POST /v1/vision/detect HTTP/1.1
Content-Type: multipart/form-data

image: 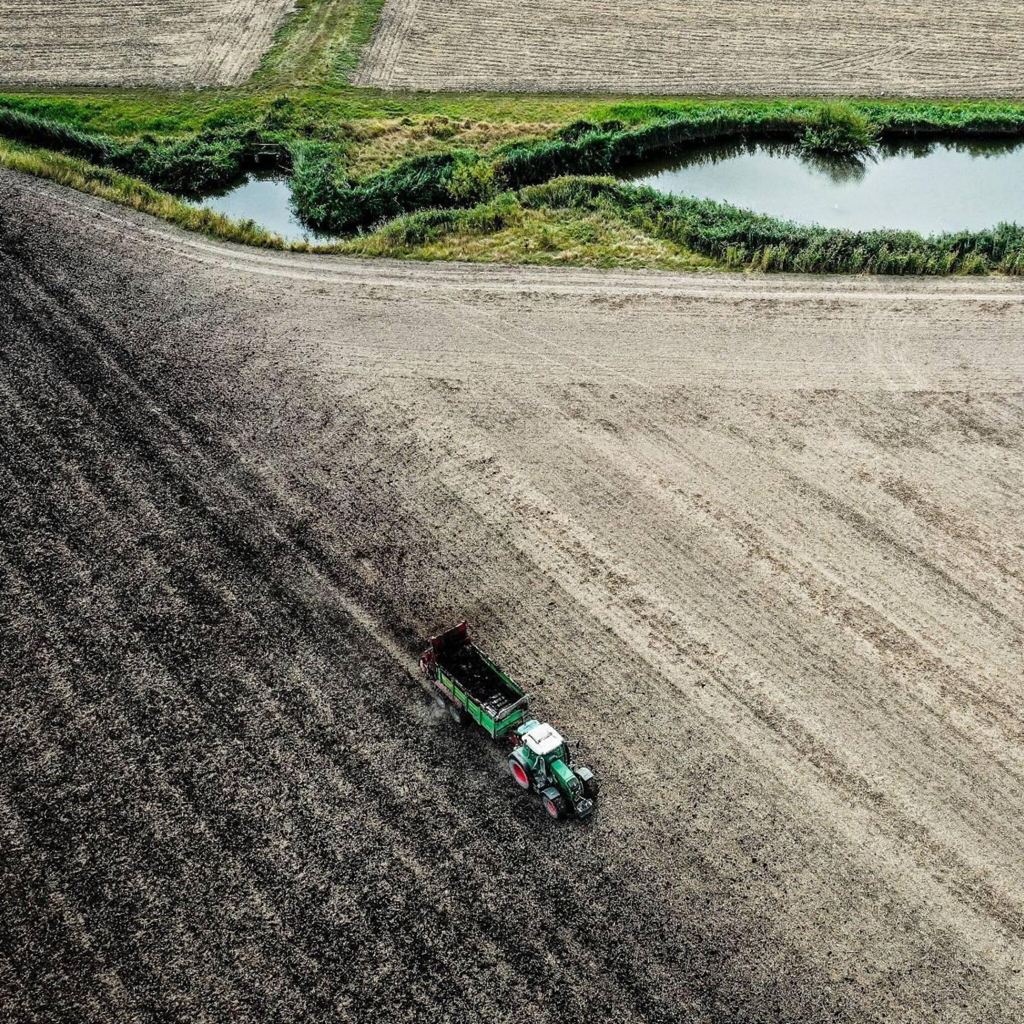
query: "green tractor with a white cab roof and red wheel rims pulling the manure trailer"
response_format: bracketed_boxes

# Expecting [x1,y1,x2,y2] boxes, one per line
[506,717,596,820]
